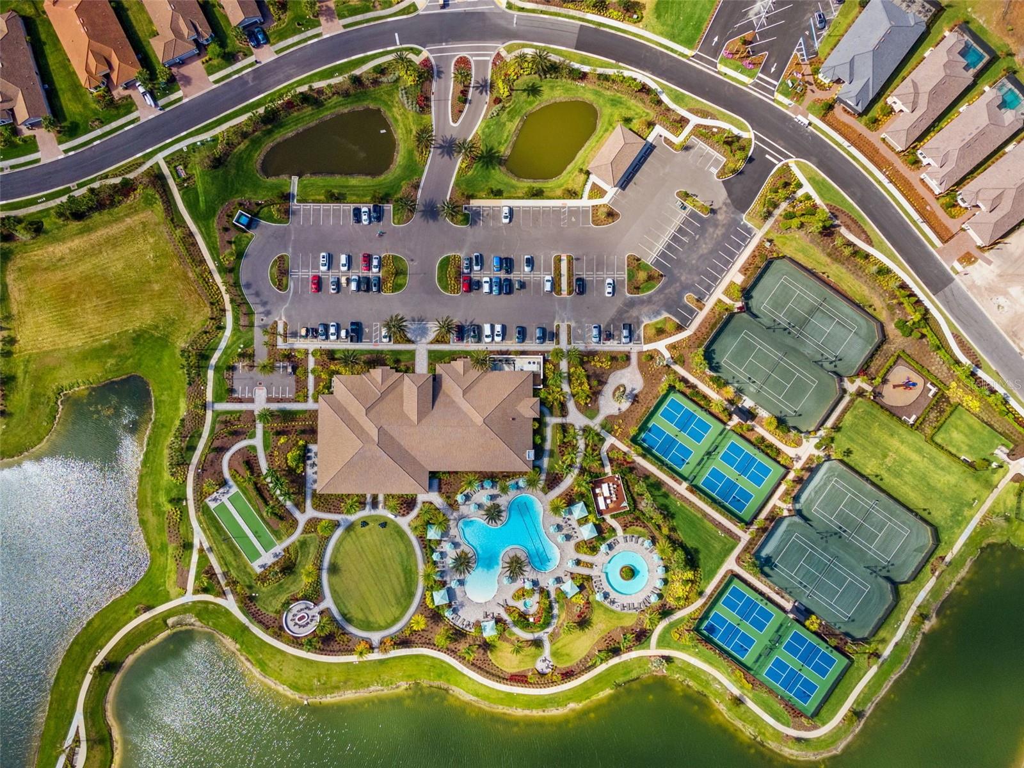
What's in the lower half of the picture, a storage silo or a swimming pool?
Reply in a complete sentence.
Visible in the lower half of the picture is a swimming pool.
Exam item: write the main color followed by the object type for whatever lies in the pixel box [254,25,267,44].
blue vehicle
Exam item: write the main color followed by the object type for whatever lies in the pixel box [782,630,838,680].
blue sports court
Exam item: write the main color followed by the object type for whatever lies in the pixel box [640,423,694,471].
blue sports court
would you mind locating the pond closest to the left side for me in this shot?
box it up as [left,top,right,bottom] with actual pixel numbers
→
[259,107,398,179]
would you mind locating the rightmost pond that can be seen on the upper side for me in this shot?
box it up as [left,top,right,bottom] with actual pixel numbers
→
[506,100,598,180]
